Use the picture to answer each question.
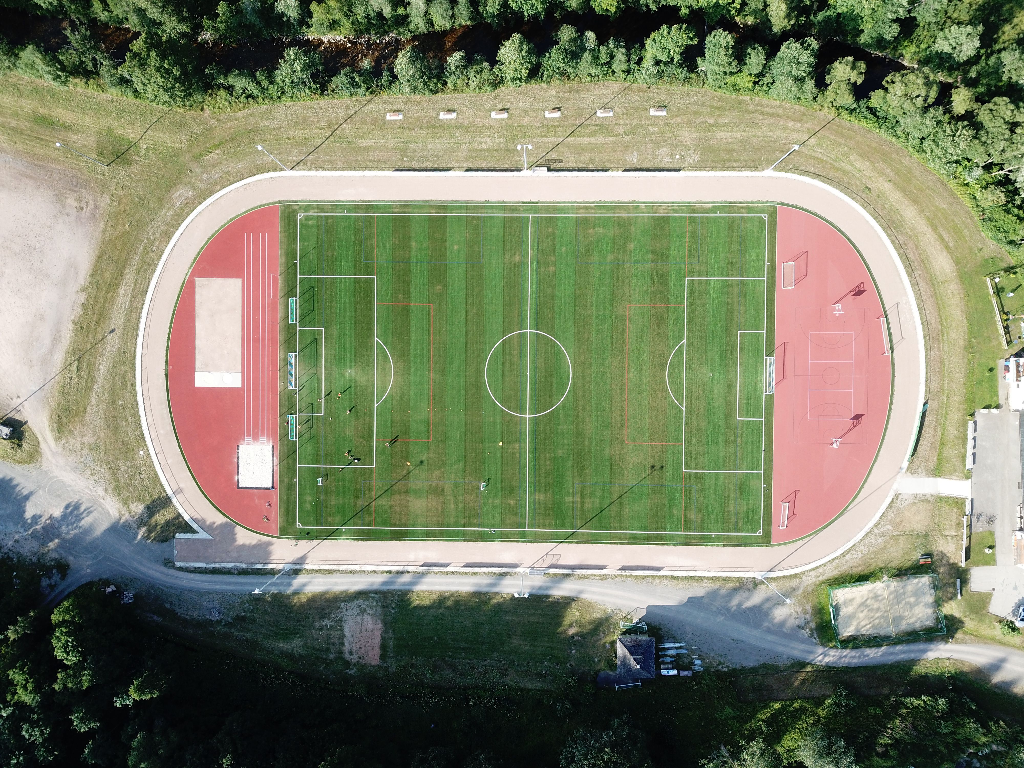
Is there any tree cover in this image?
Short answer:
Yes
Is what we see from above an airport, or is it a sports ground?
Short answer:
sports ground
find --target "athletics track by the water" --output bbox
[142,176,919,570]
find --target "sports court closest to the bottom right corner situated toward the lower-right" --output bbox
[832,576,936,639]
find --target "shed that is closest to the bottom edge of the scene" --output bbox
[617,631,655,679]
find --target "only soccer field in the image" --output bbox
[165,200,895,547]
